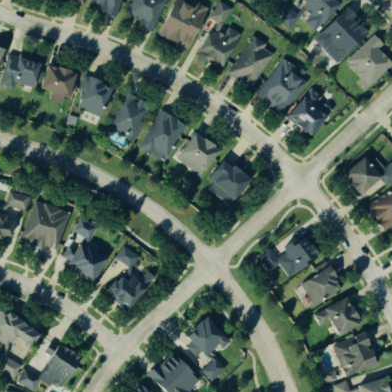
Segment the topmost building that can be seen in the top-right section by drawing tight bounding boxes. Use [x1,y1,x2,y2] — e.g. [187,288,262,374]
[281,0,344,32]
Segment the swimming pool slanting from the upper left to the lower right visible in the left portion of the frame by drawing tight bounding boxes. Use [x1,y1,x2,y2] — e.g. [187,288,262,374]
[108,131,128,148]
